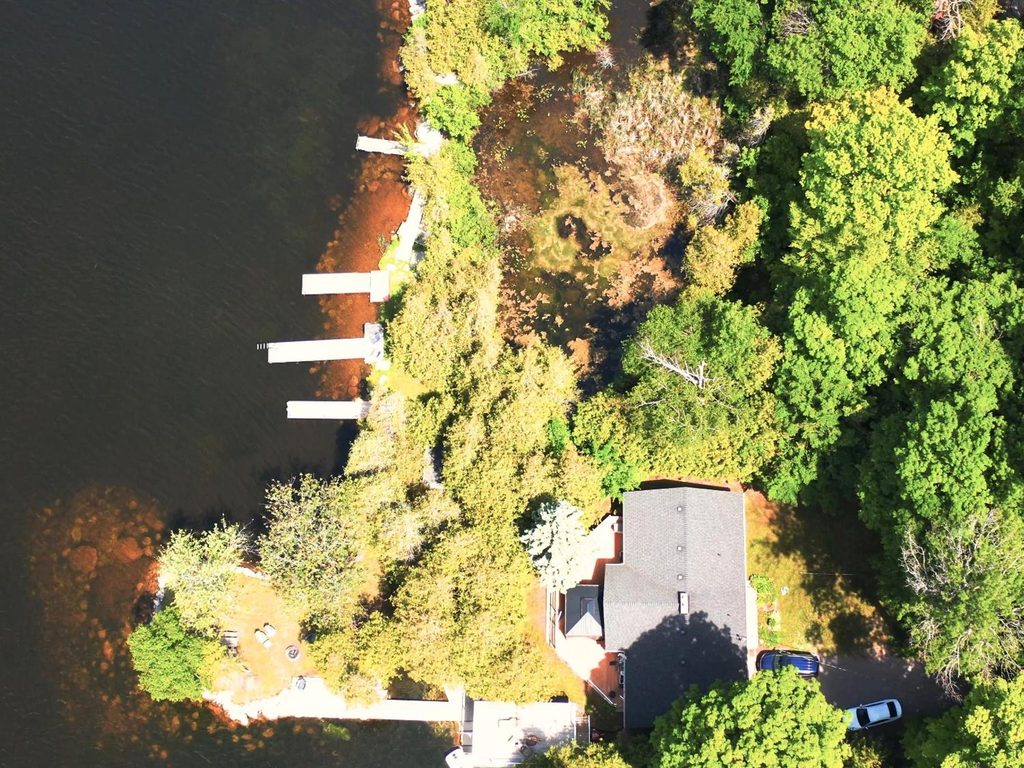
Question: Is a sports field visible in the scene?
No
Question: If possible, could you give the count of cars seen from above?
2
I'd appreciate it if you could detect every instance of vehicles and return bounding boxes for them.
[755,648,821,678]
[840,695,907,734]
